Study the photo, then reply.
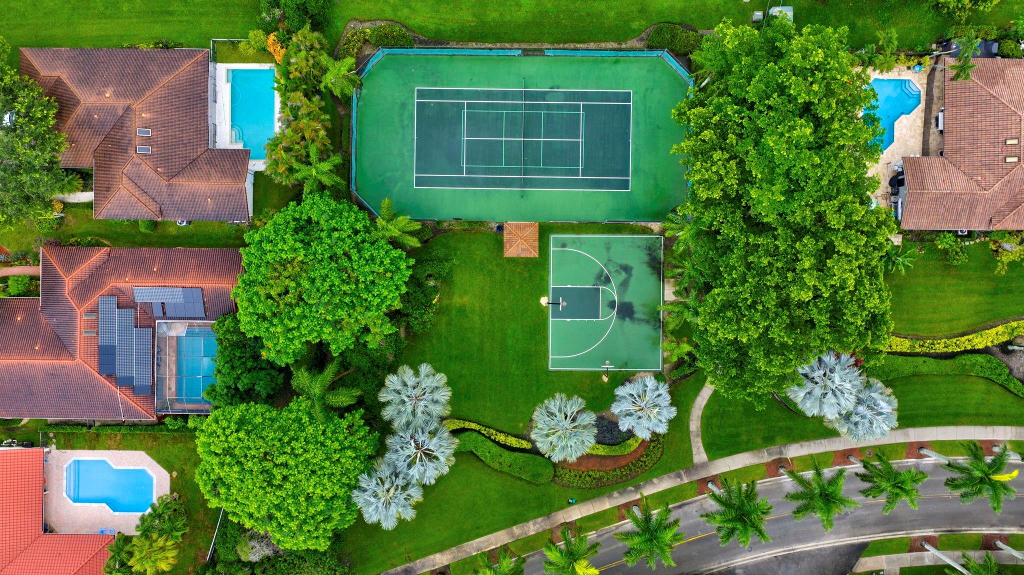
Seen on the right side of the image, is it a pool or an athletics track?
pool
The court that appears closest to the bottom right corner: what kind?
basketball court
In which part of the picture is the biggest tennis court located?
top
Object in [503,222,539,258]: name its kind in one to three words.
gazebo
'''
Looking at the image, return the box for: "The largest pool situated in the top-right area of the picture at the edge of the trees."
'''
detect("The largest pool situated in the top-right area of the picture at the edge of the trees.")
[858,76,923,153]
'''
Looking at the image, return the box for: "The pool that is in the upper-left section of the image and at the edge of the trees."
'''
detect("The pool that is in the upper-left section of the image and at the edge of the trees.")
[224,67,280,161]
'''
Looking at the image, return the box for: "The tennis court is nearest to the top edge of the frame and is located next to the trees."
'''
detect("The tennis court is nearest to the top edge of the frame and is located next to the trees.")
[355,56,689,222]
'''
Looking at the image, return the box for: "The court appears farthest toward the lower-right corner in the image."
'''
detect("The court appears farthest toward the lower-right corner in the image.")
[549,234,665,373]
